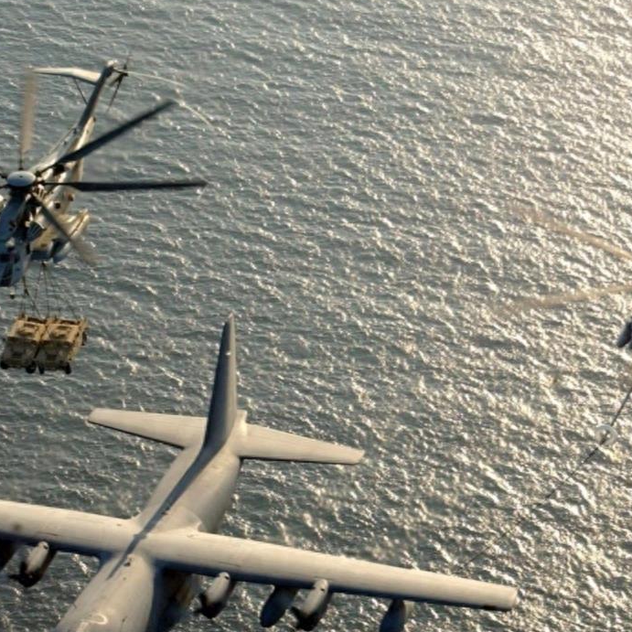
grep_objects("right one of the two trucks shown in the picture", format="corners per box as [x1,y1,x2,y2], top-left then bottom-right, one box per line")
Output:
[35,314,88,371]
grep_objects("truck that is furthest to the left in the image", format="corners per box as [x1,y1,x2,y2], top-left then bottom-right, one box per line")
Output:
[2,309,53,369]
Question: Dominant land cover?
water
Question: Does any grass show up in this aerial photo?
No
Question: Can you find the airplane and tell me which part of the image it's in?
bottom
